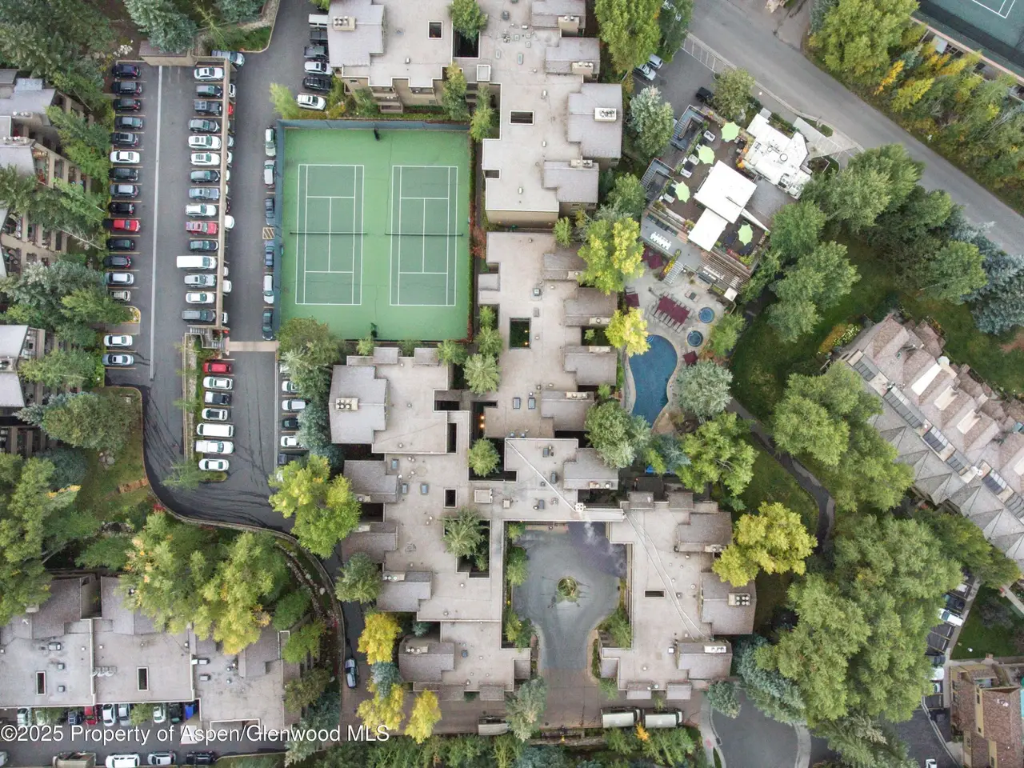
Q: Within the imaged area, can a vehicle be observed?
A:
Yes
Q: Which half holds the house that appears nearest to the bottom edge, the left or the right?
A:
right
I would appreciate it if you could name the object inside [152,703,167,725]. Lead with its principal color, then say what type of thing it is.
white car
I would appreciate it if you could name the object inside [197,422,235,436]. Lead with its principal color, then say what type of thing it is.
white vehicle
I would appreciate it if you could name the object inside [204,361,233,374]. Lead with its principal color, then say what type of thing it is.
red vehicle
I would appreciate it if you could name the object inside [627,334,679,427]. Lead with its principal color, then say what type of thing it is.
blue swimming pool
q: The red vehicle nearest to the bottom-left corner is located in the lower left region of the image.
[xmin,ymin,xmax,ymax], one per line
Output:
[84,705,100,728]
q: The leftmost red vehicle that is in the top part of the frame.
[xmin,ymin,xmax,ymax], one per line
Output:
[104,217,142,233]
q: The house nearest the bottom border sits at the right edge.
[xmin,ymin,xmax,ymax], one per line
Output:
[945,655,1022,768]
